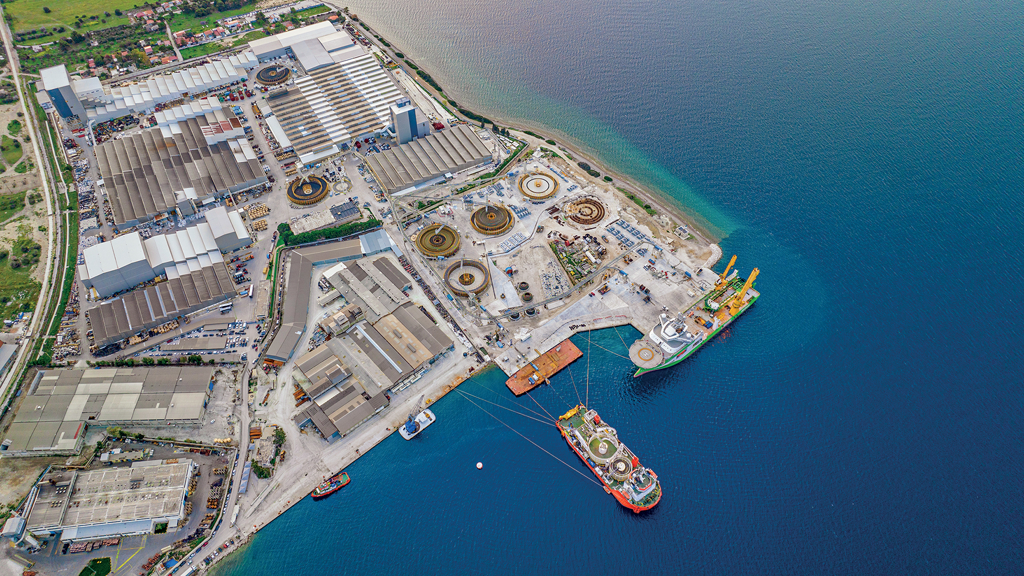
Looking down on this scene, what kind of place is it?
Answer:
port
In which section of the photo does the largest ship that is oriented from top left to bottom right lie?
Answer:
bottom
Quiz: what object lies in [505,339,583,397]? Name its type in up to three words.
ship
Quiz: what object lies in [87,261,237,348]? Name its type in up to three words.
building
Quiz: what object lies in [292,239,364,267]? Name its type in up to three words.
building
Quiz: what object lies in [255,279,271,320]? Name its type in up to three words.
shed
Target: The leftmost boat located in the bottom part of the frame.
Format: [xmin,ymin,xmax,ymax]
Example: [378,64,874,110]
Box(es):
[305,471,351,498]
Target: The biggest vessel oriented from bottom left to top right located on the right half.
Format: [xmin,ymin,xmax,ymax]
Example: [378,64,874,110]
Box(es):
[629,256,761,376]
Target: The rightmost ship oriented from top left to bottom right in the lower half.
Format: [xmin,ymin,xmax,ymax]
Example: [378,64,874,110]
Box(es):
[555,403,664,509]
